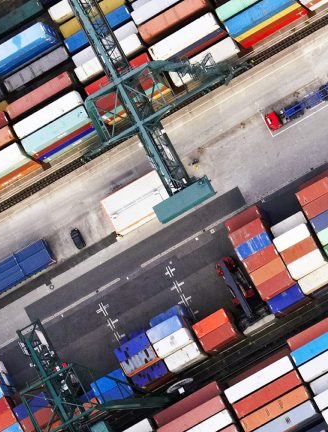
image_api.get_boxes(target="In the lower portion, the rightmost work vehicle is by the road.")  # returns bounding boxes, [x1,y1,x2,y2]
[216,254,273,334]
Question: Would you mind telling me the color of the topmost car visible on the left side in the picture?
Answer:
black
